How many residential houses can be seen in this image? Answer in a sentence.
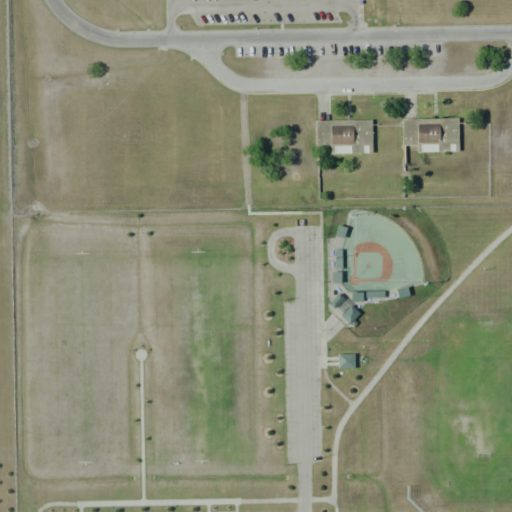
The photo contains 2 residential houses.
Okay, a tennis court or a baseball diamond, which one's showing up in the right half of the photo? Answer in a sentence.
What appears in the right half of the photo is a baseball diamond.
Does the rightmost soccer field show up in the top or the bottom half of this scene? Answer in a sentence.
The rightmost soccer field sits in the bottom half of the picture.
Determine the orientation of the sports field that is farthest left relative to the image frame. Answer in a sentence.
What the image shows is the sports field that is farthest left lying vertically.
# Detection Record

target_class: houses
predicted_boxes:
[404,118,461,152]
[317,120,374,154]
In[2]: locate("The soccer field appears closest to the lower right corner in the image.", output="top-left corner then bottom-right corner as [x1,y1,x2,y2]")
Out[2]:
[448,322,512,455]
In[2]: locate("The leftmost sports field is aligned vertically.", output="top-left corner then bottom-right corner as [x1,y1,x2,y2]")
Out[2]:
[36,240,128,469]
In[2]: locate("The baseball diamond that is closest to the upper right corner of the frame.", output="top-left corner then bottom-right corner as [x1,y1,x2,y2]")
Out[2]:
[343,211,424,292]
